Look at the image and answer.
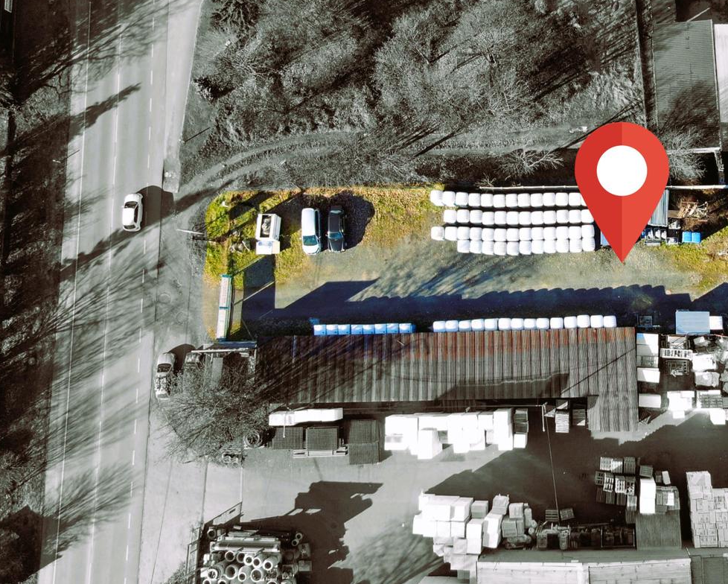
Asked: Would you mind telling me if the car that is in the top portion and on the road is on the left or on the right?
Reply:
left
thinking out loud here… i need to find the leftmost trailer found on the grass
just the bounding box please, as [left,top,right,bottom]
[252,216,280,247]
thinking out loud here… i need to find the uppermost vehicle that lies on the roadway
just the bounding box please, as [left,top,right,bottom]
[123,193,149,233]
